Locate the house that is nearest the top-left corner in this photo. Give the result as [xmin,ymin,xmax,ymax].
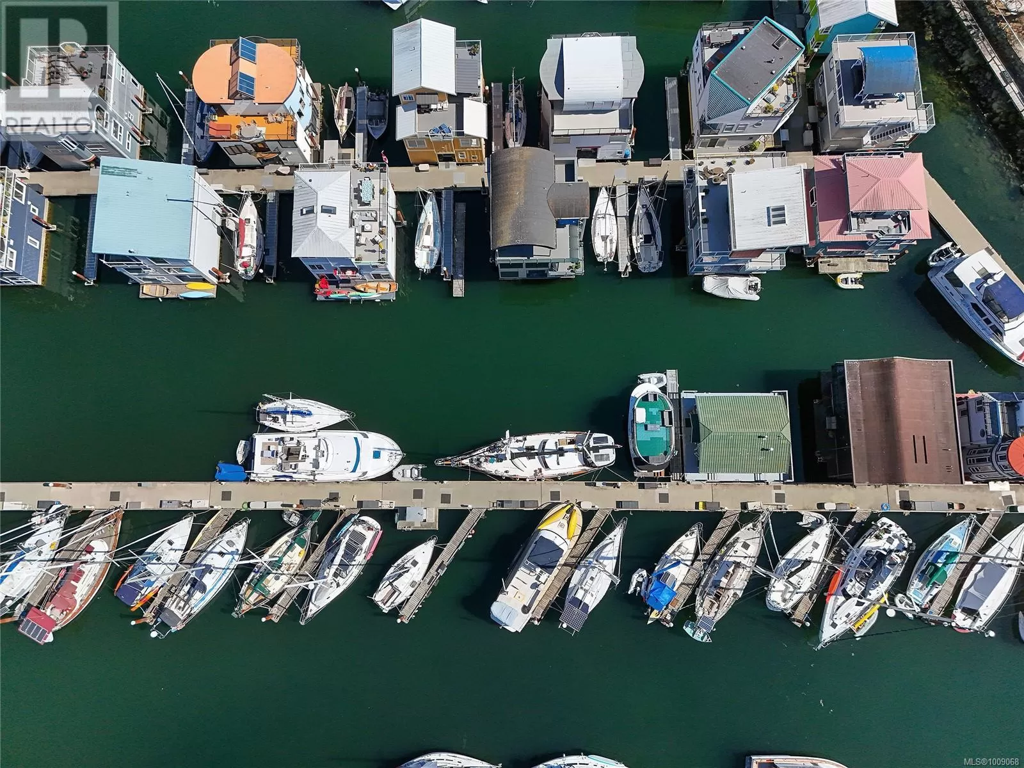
[0,39,150,164]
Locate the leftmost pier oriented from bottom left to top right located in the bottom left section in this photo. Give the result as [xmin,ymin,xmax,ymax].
[7,510,111,619]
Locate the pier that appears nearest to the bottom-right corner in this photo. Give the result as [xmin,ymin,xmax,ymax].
[927,510,1003,621]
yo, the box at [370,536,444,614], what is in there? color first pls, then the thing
white boat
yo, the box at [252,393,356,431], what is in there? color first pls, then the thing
white boat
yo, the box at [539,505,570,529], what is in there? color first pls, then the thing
yellow boat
